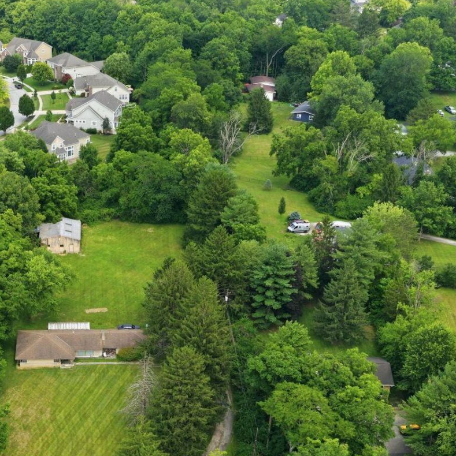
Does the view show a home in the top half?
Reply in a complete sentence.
Yes, there is a home in the top half.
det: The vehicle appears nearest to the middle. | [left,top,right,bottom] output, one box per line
[287,219,312,232]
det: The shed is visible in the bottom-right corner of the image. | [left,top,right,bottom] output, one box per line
[364,361,394,396]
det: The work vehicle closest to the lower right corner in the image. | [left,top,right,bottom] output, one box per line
[398,422,420,435]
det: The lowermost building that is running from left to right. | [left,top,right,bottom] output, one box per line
[12,327,148,375]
